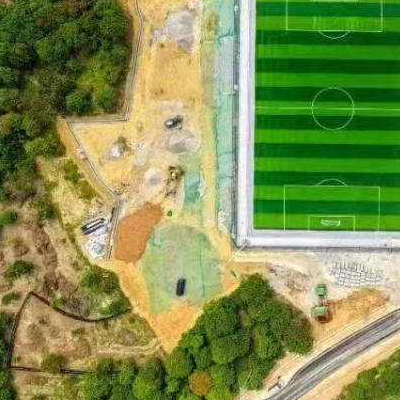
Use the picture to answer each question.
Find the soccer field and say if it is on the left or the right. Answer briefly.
right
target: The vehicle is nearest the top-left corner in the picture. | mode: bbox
[164,115,182,128]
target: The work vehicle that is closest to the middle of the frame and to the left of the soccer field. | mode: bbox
[165,167,179,191]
